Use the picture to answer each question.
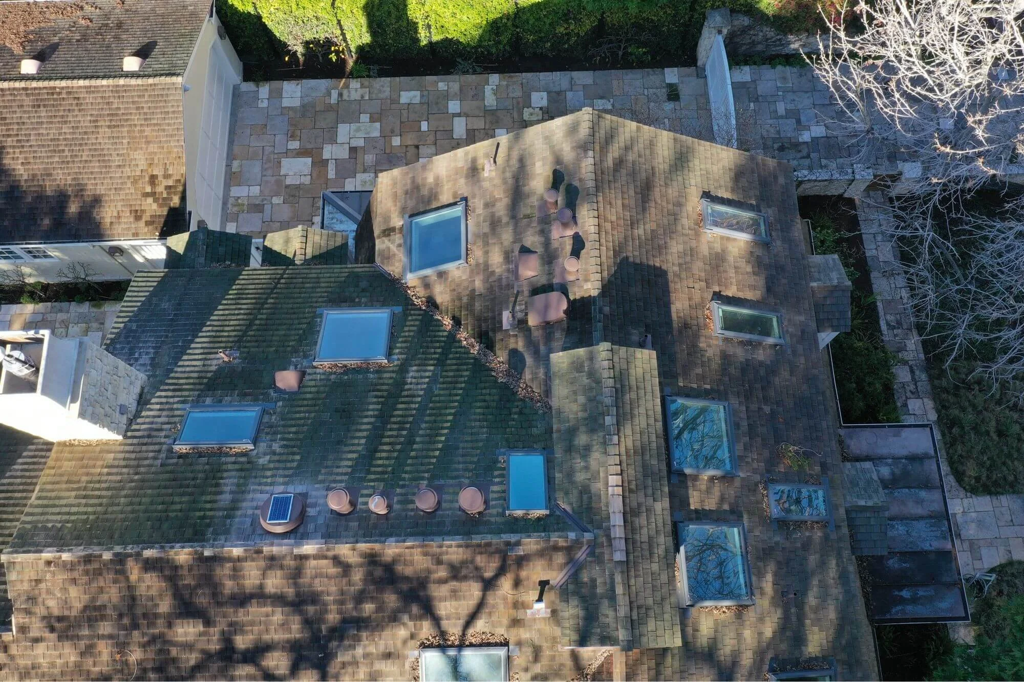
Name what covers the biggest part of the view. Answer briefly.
buildings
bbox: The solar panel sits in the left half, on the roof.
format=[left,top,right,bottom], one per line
[265,497,293,524]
